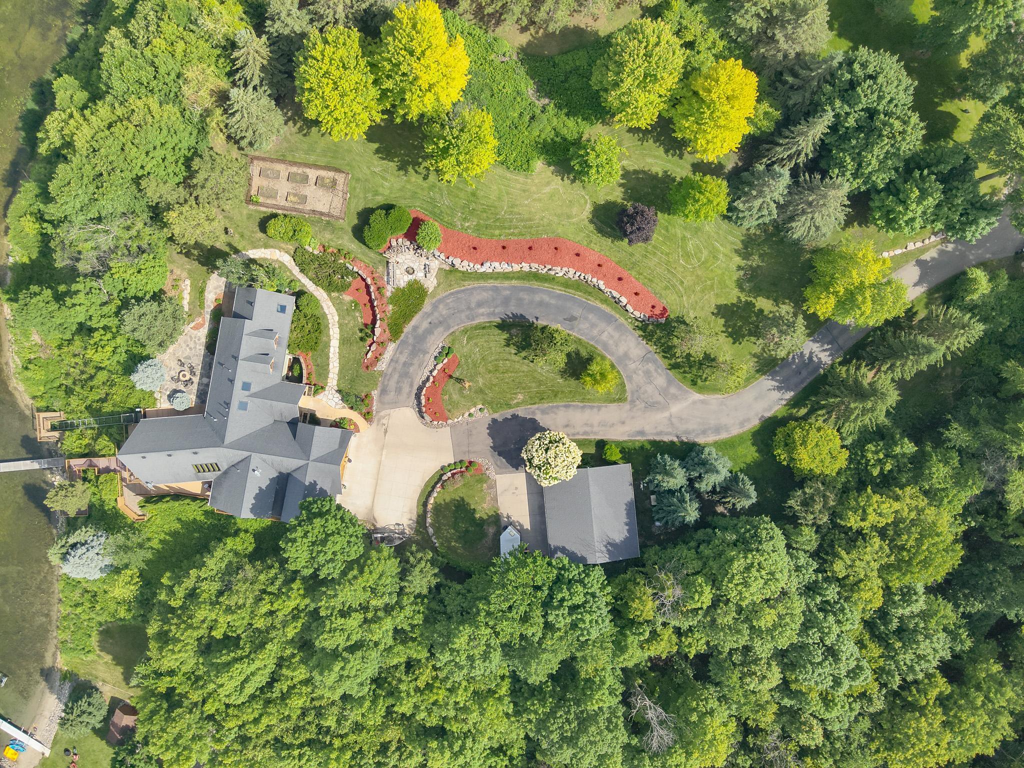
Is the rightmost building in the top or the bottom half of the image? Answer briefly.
bottom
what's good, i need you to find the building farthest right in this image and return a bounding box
[541,463,640,565]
